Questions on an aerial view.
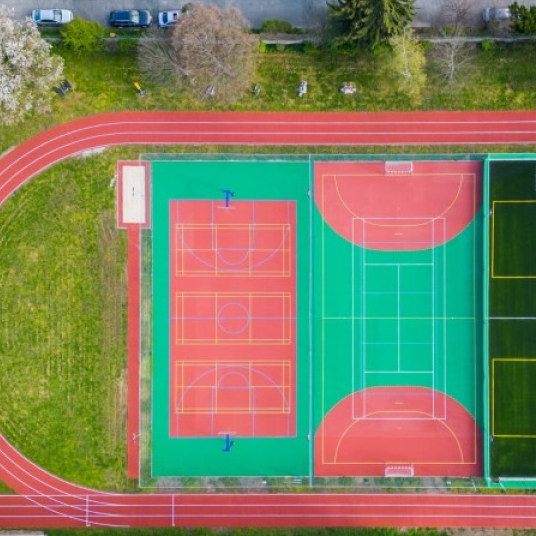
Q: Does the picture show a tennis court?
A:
Yes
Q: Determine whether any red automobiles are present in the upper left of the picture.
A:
No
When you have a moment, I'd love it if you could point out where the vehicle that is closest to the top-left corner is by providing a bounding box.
[31,7,72,28]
